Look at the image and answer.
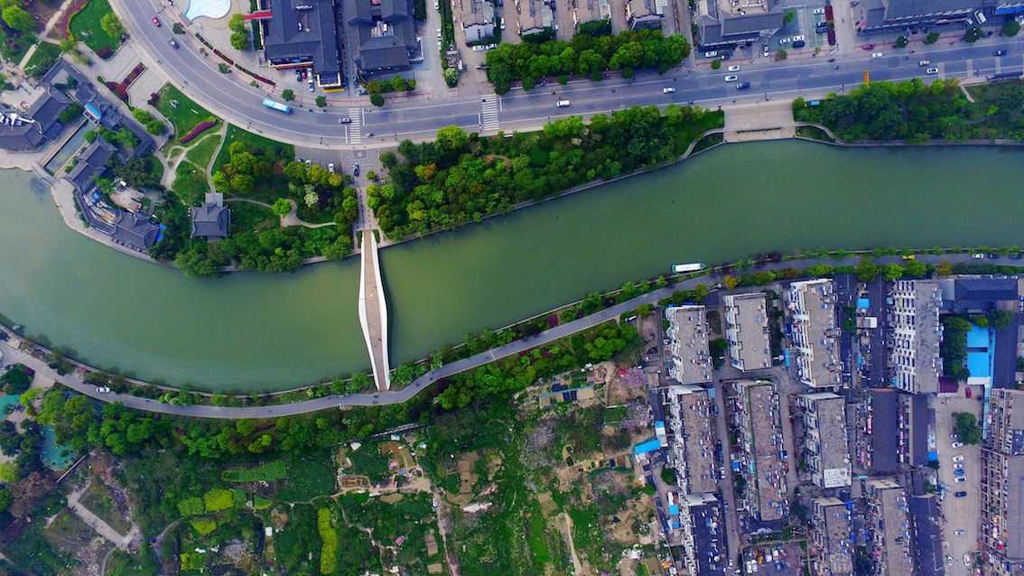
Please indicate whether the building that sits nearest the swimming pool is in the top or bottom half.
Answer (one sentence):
Seen from above, the building that sits nearest the swimming pool lies in the top half of the view.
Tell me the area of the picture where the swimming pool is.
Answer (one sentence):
The swimming pool sits in the top left section of the image.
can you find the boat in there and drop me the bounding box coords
[670,262,704,274]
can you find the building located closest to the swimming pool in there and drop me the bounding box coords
[260,0,344,94]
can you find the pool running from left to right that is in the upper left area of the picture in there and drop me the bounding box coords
[183,0,232,22]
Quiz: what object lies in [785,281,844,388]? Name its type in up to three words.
building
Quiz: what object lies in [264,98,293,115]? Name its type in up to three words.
vehicle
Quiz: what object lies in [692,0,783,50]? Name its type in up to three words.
house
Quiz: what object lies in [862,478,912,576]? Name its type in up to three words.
building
